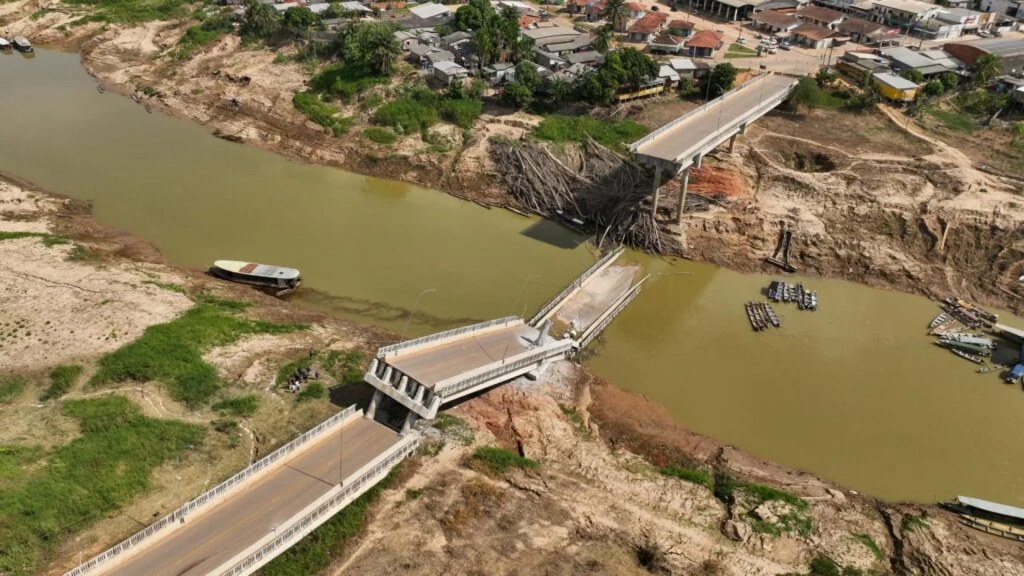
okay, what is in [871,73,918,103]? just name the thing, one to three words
house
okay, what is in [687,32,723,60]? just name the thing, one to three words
house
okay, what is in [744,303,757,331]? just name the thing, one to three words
boat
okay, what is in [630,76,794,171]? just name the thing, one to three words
bridge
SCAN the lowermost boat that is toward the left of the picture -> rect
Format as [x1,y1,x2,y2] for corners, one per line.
[208,263,307,289]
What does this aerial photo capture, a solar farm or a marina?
marina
